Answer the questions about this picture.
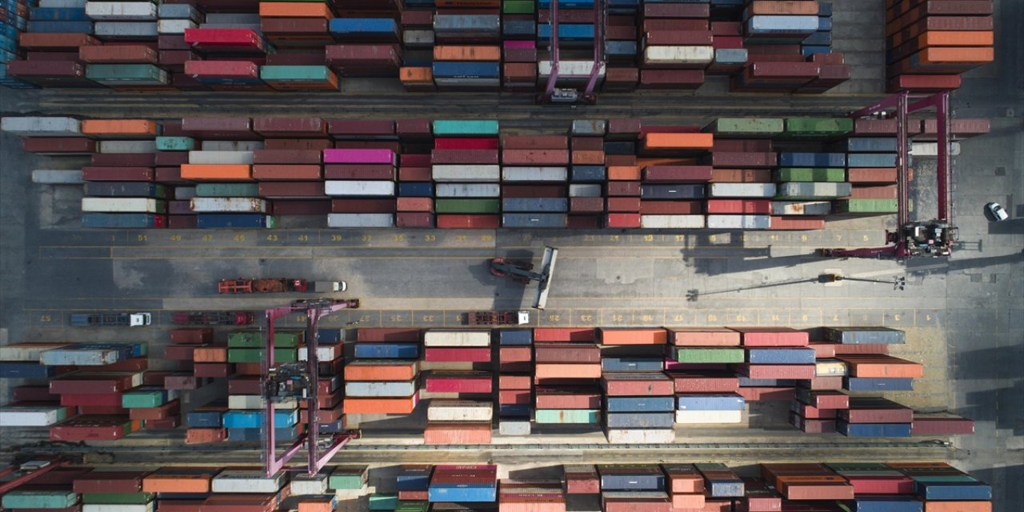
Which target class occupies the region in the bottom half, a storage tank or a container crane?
container crane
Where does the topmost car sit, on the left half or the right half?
right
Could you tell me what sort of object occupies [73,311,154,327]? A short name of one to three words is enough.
vehicle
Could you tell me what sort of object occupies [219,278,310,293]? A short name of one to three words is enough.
vehicle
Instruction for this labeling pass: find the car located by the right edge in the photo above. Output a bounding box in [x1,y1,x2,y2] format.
[987,202,1007,222]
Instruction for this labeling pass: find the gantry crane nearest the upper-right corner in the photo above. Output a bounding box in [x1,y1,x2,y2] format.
[825,86,956,264]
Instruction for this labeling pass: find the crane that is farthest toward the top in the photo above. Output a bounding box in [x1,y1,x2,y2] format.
[534,0,605,101]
